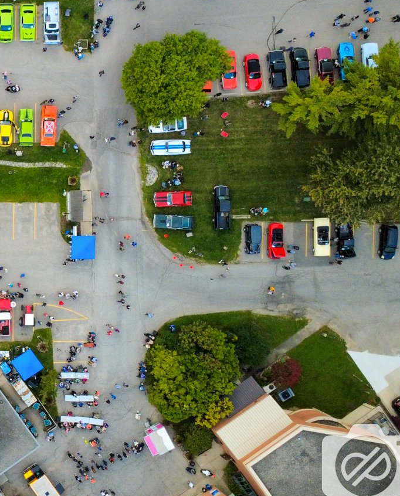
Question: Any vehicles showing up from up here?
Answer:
Yes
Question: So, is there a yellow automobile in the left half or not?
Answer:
Yes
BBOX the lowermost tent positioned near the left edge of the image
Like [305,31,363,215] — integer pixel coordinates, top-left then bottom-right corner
[8,344,45,383]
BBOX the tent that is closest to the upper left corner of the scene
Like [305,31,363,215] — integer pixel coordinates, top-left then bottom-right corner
[69,236,95,259]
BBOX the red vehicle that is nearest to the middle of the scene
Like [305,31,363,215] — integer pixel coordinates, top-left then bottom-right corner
[152,190,192,208]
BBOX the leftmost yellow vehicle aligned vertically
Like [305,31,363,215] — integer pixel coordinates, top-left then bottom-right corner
[0,108,19,148]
